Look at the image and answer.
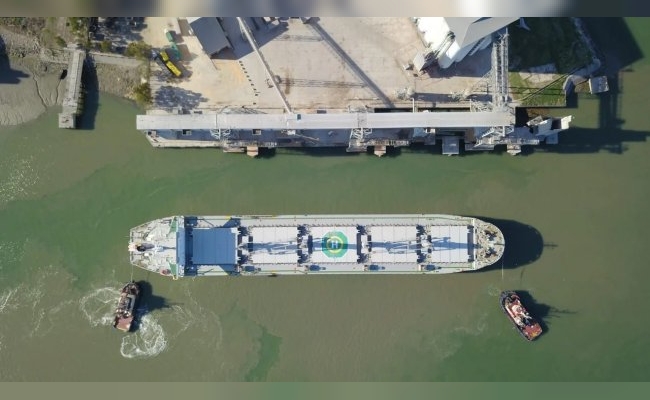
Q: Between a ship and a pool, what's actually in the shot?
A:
ship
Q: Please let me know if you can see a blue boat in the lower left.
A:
No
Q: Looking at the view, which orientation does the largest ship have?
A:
from left to right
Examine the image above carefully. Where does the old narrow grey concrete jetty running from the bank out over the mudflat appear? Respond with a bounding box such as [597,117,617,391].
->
[58,44,89,130]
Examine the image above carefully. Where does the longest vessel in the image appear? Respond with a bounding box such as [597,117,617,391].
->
[126,214,508,281]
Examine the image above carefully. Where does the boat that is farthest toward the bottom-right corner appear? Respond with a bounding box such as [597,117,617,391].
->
[500,290,541,342]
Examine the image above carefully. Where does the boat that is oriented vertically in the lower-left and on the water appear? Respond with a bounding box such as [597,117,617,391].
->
[112,283,142,333]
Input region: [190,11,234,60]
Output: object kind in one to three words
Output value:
shed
